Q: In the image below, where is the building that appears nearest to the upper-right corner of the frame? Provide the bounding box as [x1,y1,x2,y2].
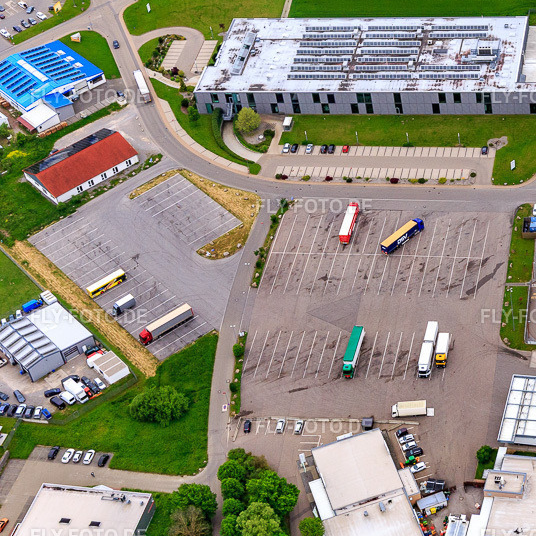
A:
[194,15,536,122]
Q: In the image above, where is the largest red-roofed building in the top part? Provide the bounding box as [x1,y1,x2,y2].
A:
[23,128,139,204]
